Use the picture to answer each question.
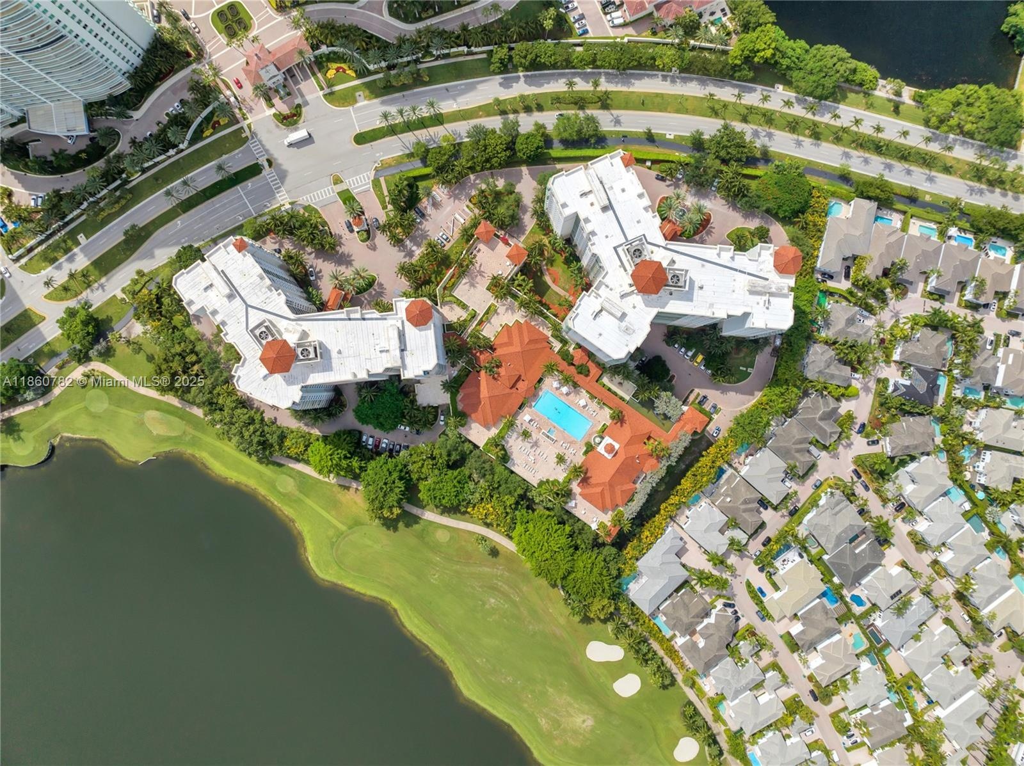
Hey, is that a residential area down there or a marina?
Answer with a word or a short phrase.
residential area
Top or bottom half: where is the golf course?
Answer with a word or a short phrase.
bottom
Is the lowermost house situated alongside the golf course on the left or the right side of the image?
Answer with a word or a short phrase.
right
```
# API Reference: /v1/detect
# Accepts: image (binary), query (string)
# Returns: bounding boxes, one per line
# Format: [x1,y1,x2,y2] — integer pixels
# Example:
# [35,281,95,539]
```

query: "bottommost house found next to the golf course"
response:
[753,707,811,766]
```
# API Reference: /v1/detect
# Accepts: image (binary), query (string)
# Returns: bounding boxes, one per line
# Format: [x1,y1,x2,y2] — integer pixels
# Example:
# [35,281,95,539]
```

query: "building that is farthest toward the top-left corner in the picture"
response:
[0,0,166,124]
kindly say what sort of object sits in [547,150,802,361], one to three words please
building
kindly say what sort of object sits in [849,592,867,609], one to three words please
swimming pool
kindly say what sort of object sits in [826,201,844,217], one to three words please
swimming pool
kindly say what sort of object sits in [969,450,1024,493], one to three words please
house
